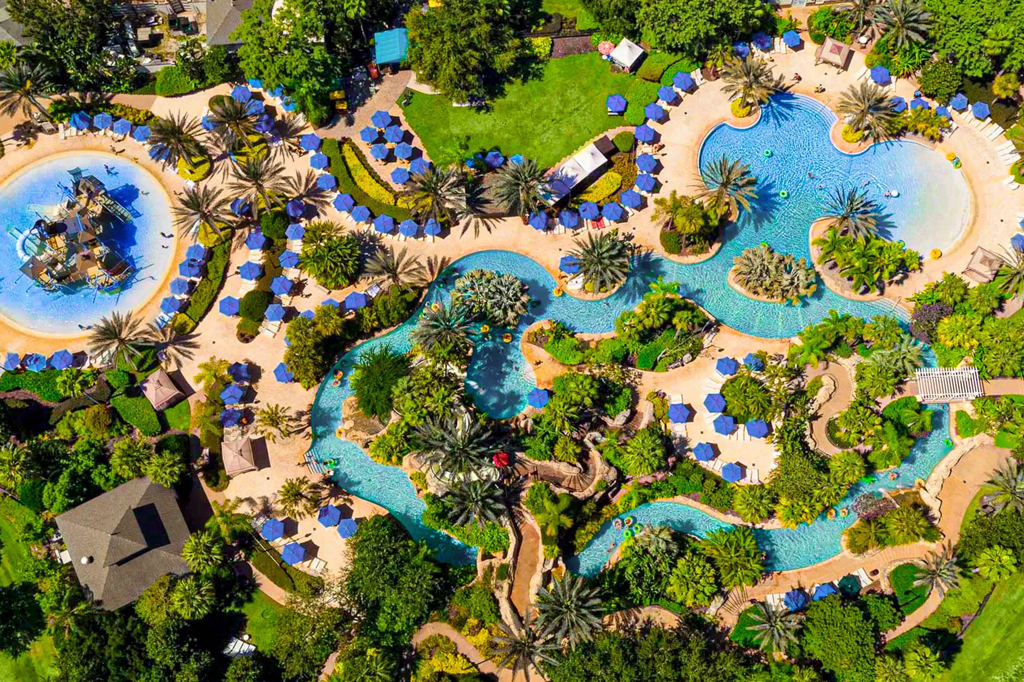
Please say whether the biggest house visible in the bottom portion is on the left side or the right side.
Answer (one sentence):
The biggest house visible in the bottom portion sits on the left side.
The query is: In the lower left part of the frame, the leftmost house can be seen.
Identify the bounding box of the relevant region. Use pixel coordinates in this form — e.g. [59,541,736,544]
[59,473,191,615]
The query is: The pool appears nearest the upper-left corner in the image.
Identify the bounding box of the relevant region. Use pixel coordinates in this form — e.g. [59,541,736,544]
[0,150,179,337]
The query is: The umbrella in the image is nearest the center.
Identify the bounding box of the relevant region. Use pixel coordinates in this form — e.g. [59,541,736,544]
[527,387,548,408]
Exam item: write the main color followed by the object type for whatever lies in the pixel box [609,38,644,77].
white tent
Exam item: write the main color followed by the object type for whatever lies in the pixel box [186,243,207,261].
blue umbrella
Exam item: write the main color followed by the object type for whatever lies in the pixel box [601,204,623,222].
blue umbrella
